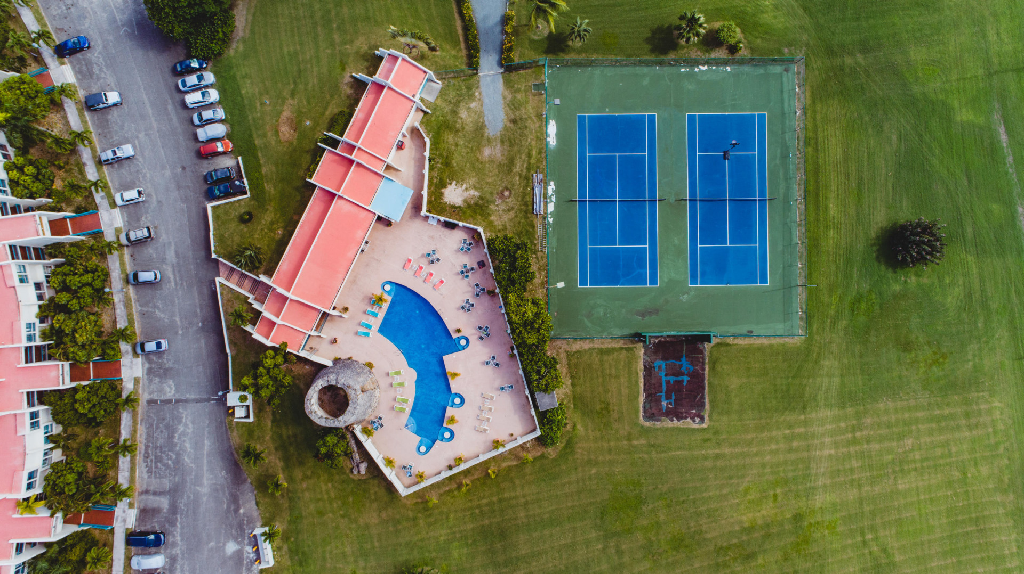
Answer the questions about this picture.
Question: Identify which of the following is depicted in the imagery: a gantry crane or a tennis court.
tennis court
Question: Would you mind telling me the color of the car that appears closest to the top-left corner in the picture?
blue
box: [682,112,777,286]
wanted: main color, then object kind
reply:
blue tennis court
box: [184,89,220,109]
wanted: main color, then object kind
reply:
white car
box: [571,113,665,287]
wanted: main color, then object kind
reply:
blue tennis court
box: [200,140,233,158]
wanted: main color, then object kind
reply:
red car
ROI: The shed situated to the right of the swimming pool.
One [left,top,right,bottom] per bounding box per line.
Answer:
[535,390,559,412]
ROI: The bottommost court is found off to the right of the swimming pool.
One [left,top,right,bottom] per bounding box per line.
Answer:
[643,341,708,424]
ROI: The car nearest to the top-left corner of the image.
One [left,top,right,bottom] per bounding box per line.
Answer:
[56,37,89,57]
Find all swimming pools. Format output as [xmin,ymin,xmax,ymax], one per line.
[378,281,471,456]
